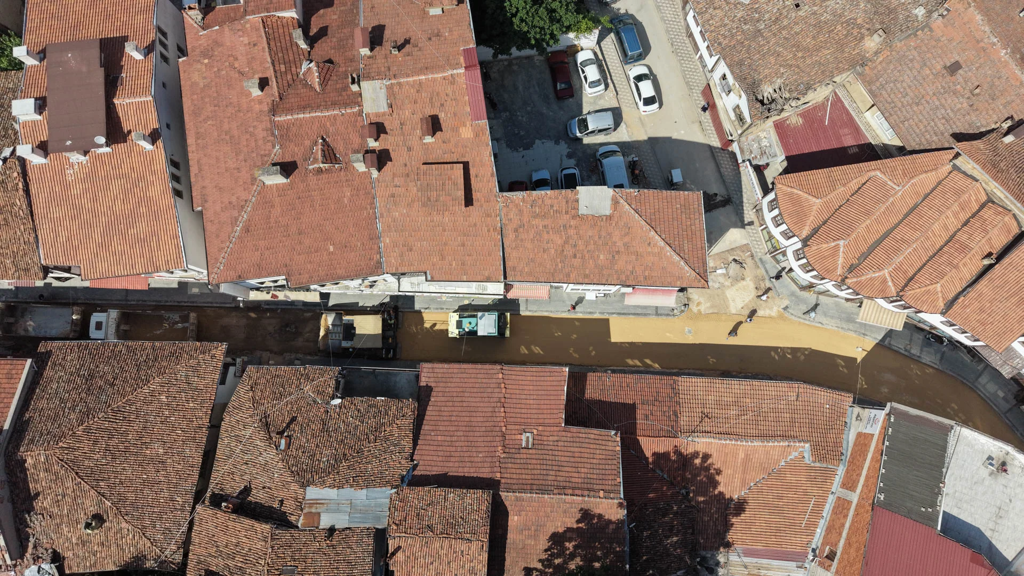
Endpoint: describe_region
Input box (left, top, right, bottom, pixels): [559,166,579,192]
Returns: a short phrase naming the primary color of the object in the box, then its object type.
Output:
black car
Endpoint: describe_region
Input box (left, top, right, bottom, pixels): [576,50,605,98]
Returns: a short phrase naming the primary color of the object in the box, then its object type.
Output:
white car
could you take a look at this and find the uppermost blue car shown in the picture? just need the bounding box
[614,15,644,64]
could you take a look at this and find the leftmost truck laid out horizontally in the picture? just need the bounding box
[0,302,91,336]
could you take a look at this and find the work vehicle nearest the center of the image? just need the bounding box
[447,311,511,337]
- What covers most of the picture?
buildings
